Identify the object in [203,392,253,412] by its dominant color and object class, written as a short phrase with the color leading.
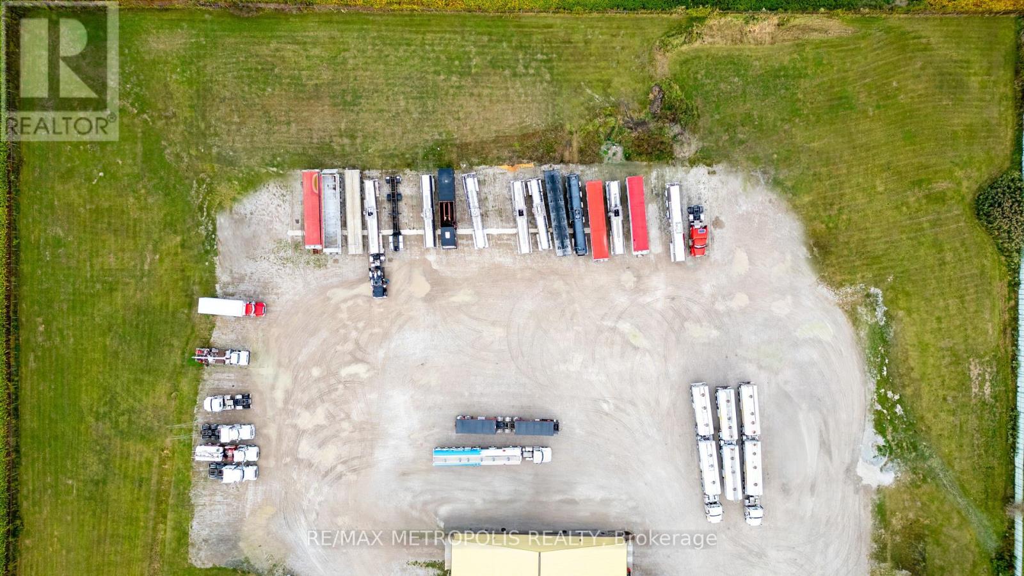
white vehicle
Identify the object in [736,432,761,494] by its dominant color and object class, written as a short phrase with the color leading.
white trailer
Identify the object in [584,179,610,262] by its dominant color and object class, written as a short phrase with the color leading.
red trailer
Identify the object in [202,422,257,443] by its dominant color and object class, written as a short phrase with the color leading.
white truck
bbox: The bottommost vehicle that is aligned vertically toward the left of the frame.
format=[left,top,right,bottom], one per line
[369,253,388,298]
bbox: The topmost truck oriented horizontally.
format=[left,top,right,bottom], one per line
[197,298,266,319]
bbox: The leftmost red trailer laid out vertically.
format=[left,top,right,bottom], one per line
[302,170,323,250]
